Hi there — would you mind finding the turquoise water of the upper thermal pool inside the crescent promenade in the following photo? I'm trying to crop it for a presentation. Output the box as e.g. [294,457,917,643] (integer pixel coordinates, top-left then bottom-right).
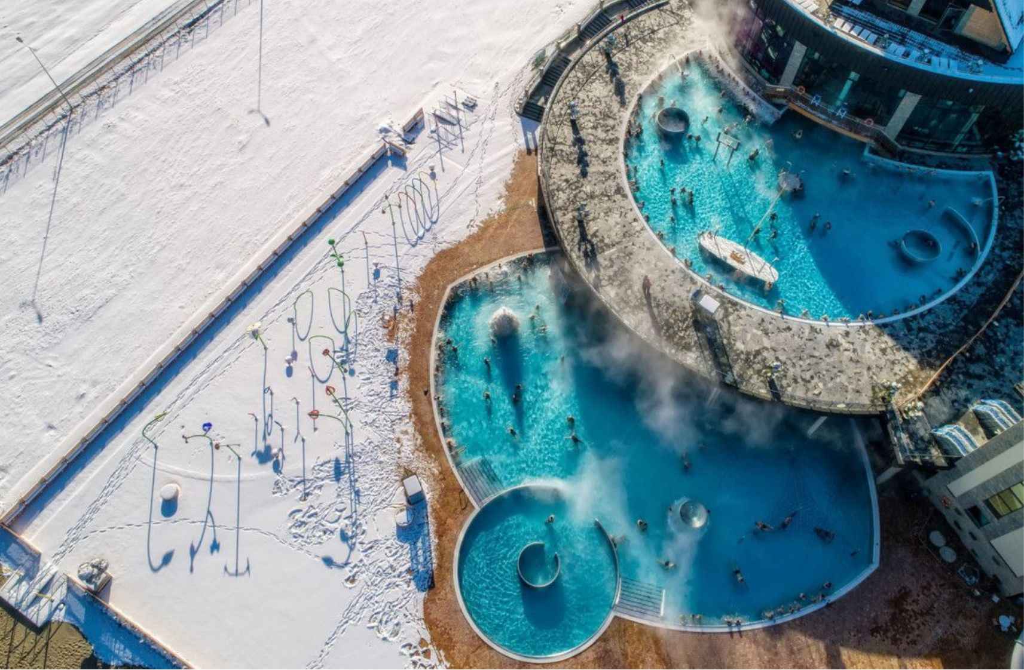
[626,55,992,322]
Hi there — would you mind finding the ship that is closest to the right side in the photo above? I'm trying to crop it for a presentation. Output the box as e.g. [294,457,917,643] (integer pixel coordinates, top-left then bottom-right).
[699,166,801,291]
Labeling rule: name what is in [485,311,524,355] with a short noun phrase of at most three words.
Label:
fountain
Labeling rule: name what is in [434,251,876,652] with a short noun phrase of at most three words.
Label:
swimming pool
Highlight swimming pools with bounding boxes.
[626,55,992,322]
[434,251,876,652]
